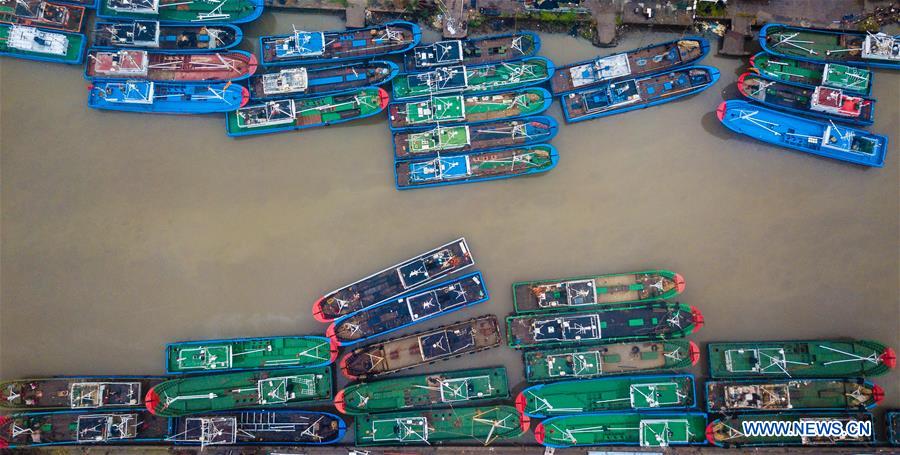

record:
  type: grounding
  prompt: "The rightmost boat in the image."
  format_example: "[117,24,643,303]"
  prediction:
[879,410,900,444]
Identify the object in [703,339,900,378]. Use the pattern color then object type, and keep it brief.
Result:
green boat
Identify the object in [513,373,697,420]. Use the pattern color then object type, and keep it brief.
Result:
green boat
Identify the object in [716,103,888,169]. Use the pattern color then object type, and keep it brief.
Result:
blue boat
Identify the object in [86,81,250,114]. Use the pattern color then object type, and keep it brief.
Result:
blue boat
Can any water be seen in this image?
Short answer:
Yes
